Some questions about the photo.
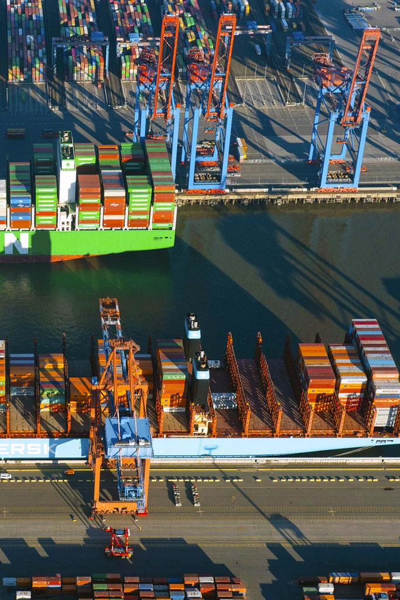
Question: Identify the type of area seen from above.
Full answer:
The picture captures a port.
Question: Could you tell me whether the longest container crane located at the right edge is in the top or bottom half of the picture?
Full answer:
The longest container crane located at the right edge sits in the top half of the picture.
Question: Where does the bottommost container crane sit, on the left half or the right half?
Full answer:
It is on the left.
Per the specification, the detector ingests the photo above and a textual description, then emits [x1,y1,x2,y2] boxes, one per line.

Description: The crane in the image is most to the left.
[52,32,116,78]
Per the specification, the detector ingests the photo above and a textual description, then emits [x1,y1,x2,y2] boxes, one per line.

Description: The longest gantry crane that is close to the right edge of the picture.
[305,25,388,188]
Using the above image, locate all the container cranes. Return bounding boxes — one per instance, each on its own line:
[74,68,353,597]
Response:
[179,13,239,189]
[133,13,183,188]
[114,36,168,77]
[82,297,158,519]
[52,32,116,78]
[282,27,345,74]
[222,20,277,59]
[305,25,388,188]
